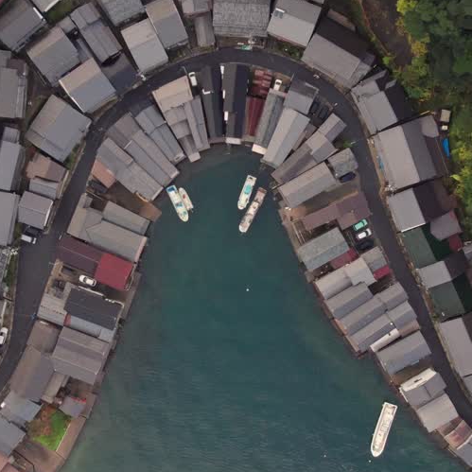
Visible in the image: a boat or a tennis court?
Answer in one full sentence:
The one in the frame is a boat.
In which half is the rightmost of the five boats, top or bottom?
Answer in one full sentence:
The rightmost of the five boats sits in the bottom half of the picture.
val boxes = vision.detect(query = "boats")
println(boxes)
[239,160,257,208]
[241,187,266,231]
[180,188,193,212]
[167,175,187,220]
[374,402,399,457]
